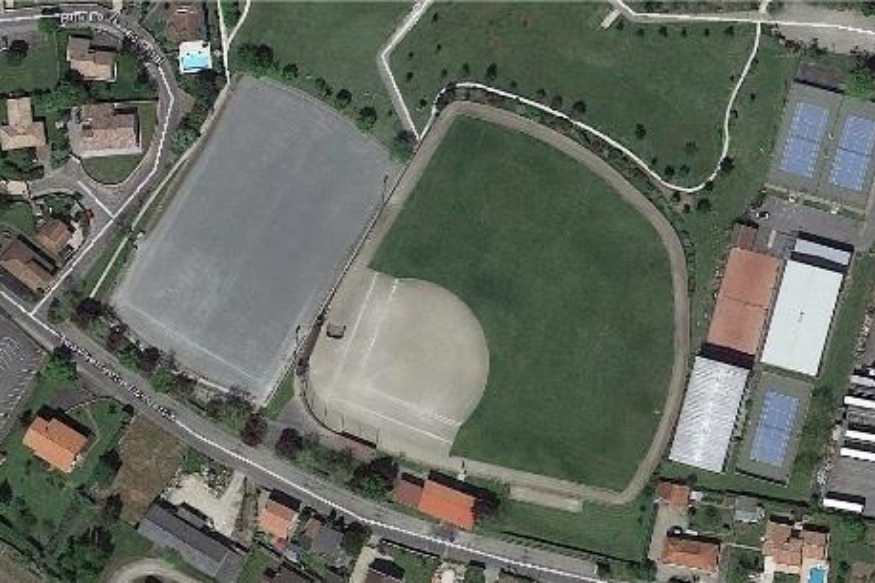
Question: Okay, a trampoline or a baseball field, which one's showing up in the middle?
baseball field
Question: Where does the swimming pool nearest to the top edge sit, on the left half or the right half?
left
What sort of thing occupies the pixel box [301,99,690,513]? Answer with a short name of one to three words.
baseball field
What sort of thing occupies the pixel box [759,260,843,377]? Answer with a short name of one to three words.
building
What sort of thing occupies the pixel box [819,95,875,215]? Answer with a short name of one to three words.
tennis court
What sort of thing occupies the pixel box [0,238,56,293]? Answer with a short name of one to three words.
house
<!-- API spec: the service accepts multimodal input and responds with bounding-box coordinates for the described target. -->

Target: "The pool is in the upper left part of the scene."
[180,42,213,73]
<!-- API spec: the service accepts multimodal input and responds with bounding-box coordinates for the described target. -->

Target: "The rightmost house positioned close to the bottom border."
[766,522,828,563]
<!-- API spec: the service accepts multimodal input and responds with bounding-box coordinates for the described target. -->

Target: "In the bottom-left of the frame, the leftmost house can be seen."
[22,415,85,470]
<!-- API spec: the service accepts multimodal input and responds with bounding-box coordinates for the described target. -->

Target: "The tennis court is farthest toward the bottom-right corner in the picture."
[736,371,813,486]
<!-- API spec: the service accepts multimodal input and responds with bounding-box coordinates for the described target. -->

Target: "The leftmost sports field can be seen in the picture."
[109,76,391,405]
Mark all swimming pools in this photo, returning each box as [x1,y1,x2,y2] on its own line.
[180,42,213,73]
[808,568,826,583]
